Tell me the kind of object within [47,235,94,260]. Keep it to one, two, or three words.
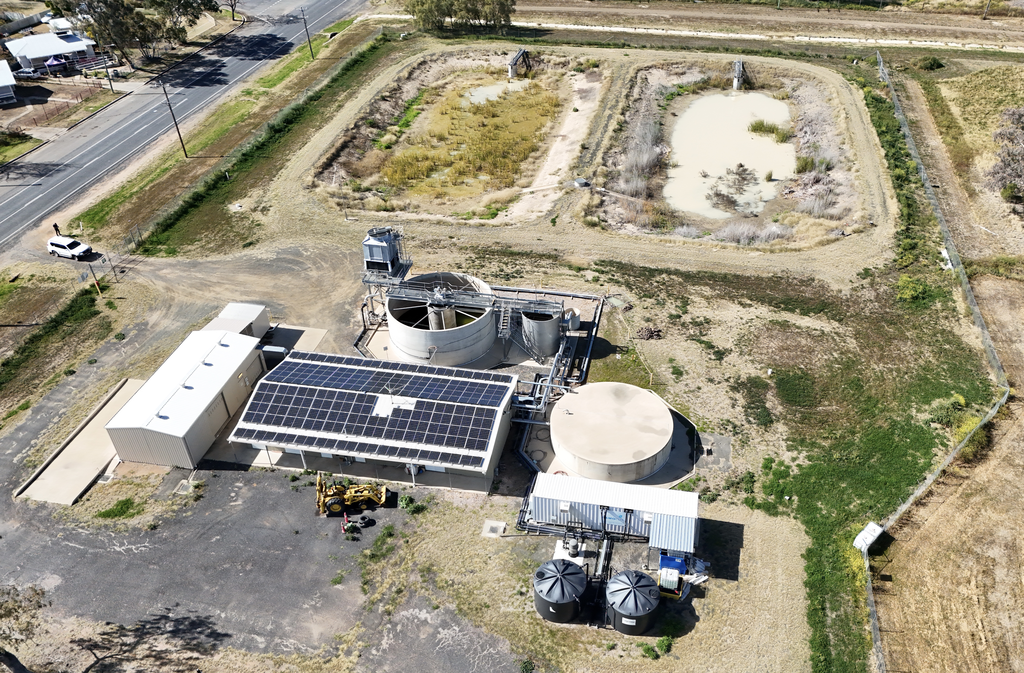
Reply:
car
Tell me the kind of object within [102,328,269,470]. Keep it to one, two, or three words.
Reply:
shed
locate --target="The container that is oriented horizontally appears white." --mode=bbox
[526,473,699,545]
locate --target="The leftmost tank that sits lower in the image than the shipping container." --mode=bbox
[534,559,588,623]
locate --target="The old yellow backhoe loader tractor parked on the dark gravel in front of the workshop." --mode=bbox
[309,480,388,518]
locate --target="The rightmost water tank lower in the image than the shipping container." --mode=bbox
[603,568,660,635]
